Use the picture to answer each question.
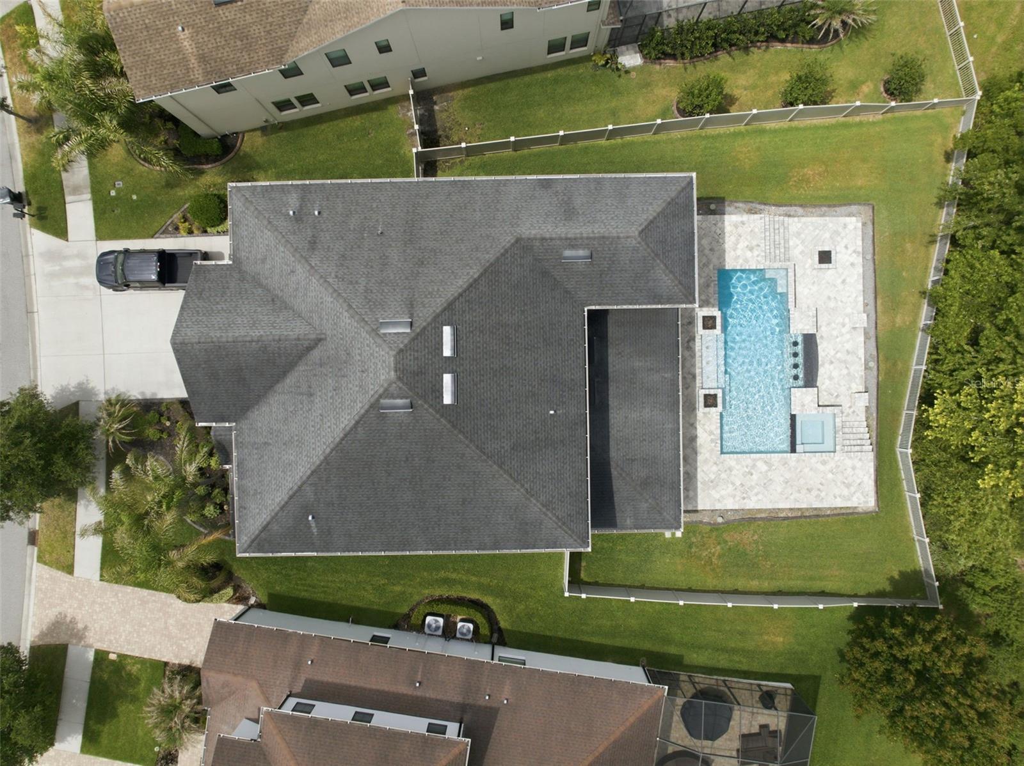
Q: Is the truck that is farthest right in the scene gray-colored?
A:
Yes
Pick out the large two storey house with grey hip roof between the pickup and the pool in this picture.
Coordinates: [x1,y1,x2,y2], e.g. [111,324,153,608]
[171,173,697,556]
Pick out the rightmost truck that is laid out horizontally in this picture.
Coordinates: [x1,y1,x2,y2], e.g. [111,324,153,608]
[95,244,213,292]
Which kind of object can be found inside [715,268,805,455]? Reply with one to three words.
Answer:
swimming pool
